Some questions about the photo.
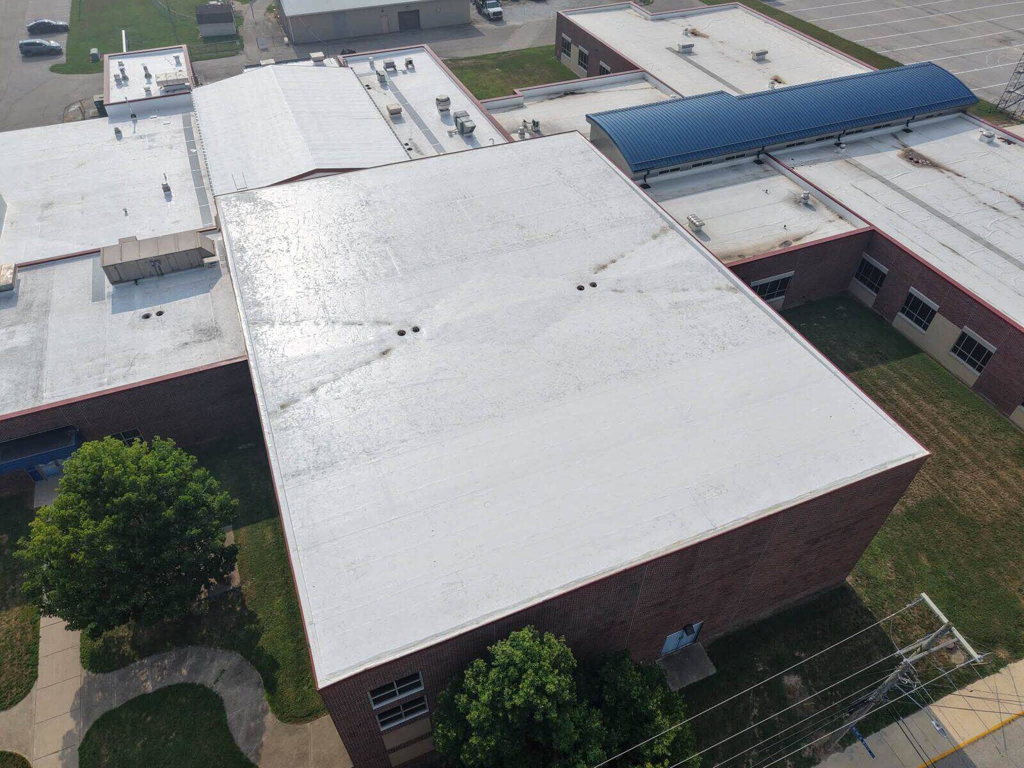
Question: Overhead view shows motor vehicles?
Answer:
Yes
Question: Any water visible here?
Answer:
No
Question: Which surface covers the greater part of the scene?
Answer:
buildings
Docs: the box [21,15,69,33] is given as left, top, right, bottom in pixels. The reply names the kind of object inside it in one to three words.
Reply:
car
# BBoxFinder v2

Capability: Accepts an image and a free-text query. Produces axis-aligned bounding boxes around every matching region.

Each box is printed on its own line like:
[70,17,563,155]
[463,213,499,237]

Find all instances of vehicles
[12,35,62,56]
[21,15,69,33]
[476,0,502,16]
